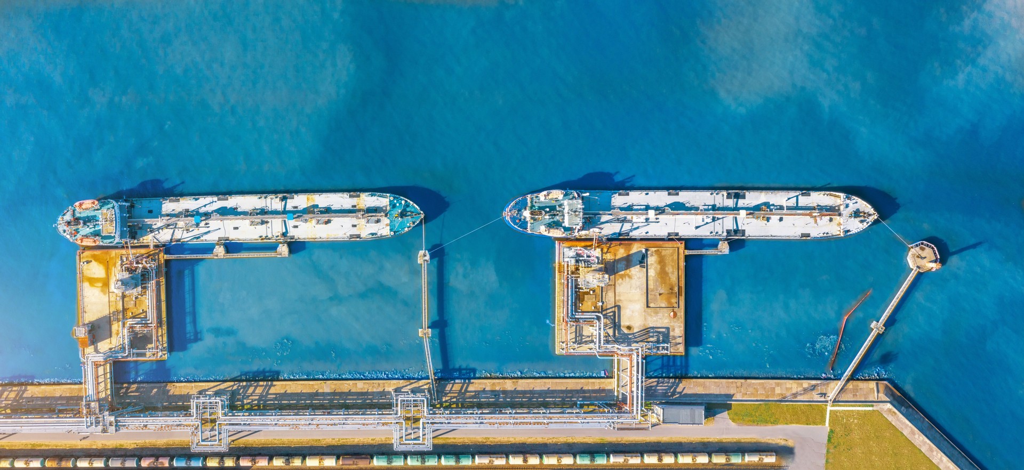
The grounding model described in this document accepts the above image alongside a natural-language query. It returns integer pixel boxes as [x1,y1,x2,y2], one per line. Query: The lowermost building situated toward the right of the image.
[654,404,704,425]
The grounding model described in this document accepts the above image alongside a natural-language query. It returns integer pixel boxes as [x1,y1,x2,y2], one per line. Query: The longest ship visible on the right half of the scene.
[502,191,879,240]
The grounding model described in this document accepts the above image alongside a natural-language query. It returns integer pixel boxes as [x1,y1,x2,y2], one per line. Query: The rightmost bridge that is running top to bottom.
[622,355,644,407]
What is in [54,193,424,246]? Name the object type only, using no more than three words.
ship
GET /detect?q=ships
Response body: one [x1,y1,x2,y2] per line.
[502,191,879,240]
[54,193,424,246]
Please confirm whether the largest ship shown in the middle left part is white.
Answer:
Yes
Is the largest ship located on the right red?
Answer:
No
